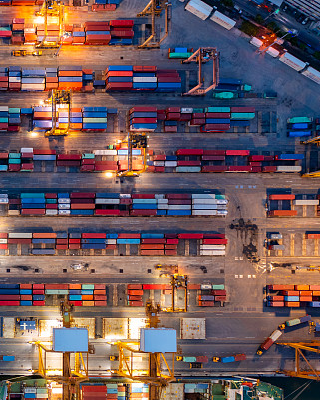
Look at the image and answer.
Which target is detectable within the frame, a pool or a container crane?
container crane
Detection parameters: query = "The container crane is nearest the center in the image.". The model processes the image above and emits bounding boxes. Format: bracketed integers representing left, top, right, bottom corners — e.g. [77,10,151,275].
[117,134,147,180]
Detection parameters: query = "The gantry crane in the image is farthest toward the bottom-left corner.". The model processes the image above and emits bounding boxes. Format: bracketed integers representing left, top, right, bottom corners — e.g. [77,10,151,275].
[30,299,88,400]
